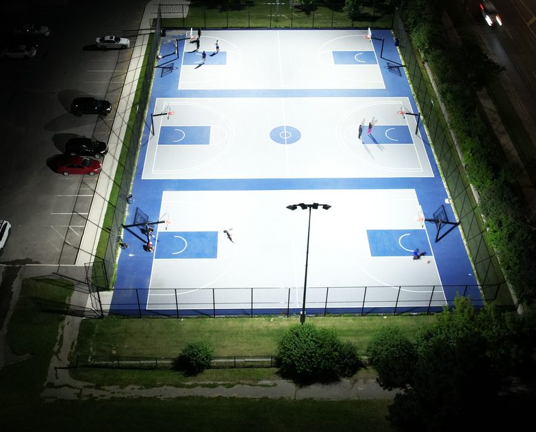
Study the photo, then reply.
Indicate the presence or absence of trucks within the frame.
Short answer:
No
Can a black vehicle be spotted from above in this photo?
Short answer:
Yes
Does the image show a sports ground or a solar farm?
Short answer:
sports ground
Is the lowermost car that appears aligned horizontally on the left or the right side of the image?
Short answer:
left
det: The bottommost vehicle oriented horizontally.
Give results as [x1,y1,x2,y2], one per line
[55,155,102,175]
